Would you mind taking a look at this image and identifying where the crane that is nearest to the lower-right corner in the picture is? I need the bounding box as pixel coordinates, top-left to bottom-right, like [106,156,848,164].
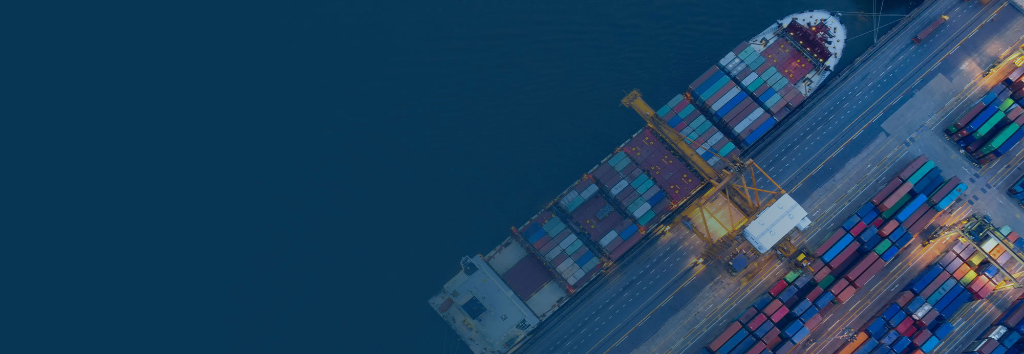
[919,213,1024,305]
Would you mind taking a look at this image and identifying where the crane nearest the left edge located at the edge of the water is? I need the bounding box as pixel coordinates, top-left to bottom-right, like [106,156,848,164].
[617,83,812,268]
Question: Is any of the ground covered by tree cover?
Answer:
No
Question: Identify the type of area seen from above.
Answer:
port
